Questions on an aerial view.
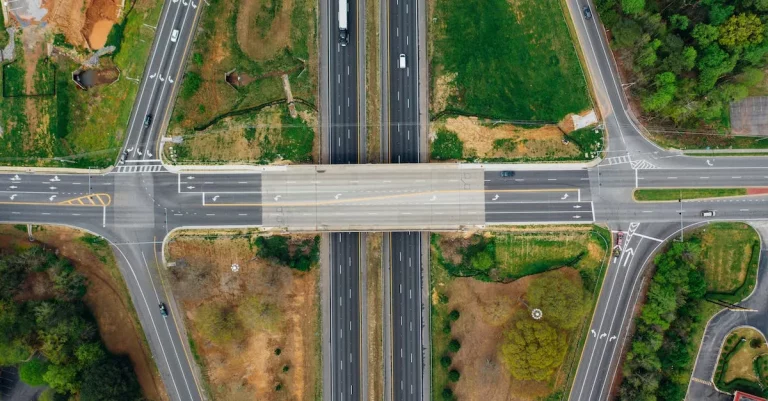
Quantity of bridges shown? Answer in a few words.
one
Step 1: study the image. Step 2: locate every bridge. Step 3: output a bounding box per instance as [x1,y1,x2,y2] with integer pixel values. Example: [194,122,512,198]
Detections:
[262,164,489,232]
